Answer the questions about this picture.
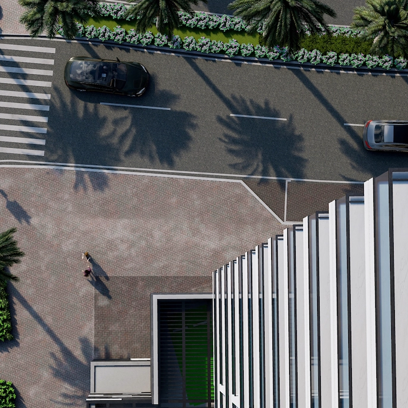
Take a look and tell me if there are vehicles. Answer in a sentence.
Yes, there is a vehicle in the image.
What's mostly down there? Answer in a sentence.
Most of the picture is covered by paved ground.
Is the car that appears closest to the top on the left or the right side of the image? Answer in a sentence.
The car that appears closest to the top is on the left side of the image.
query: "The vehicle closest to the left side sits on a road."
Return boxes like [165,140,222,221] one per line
[64,58,149,99]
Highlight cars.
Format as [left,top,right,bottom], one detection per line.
[64,58,149,99]
[362,120,408,152]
